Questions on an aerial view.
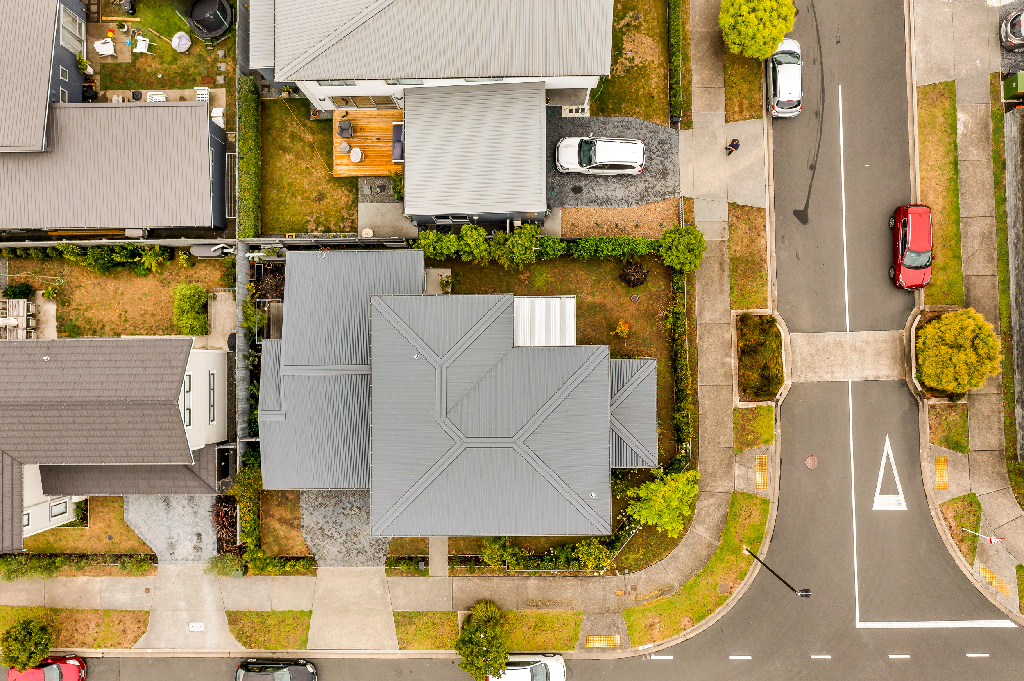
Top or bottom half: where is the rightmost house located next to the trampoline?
top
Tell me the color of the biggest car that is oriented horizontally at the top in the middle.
white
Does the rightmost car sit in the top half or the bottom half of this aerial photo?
top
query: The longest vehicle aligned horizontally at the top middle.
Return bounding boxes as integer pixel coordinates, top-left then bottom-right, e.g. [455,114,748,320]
[554,131,647,177]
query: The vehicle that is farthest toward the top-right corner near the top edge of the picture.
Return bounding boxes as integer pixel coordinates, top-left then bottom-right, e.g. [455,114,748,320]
[999,13,1024,53]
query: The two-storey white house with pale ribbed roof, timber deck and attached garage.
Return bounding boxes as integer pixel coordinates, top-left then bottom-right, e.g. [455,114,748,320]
[246,0,615,226]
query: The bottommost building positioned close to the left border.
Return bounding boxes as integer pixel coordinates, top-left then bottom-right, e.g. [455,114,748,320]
[0,337,229,556]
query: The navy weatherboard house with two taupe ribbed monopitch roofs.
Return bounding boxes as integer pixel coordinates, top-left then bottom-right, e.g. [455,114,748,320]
[0,0,230,230]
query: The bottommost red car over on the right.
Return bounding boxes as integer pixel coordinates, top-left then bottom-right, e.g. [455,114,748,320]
[886,204,936,292]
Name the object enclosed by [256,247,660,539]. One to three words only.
house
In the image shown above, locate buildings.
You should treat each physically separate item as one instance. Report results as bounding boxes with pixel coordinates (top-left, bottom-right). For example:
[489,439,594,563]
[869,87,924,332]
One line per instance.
[0,337,229,556]
[0,0,230,230]
[246,0,615,226]
[256,247,660,539]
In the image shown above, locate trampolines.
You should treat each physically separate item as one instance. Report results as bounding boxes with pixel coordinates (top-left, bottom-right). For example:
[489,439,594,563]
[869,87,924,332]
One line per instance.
[177,0,235,50]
